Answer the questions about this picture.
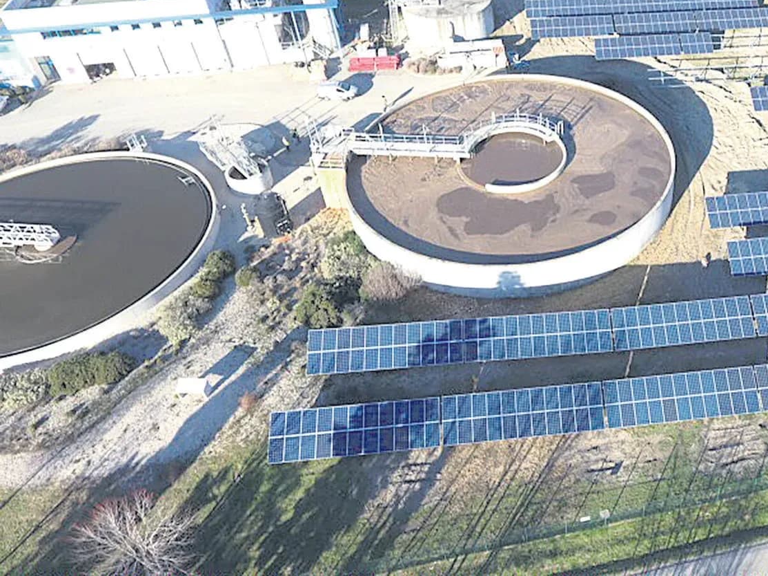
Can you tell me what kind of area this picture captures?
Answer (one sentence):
This looks like an industrial area.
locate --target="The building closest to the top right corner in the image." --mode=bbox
[440,27,511,68]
